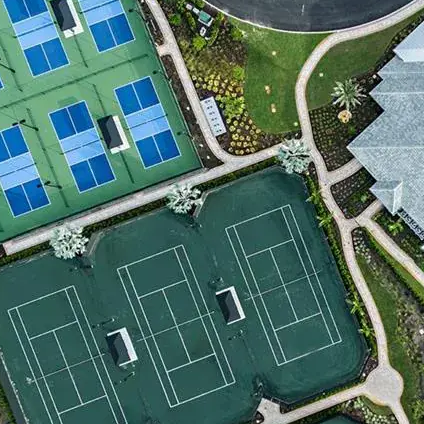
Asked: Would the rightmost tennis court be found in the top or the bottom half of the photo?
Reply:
bottom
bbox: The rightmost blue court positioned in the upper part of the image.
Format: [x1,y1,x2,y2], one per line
[114,74,181,168]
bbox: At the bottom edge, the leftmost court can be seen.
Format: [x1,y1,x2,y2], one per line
[6,283,128,424]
